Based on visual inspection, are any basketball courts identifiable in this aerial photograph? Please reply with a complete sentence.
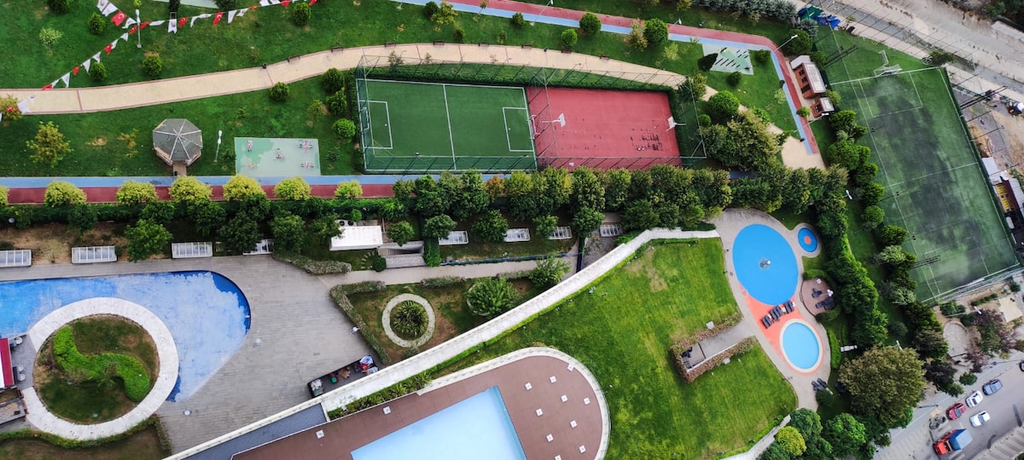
Yes, looking at the shot, I can spot a basketball court.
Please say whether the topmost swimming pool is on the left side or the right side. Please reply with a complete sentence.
It is on the right.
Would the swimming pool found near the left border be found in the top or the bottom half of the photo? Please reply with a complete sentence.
Seen from above, the swimming pool found near the left border lies in the bottom half of the view.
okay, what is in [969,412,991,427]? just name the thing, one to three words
car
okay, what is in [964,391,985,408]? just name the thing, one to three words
car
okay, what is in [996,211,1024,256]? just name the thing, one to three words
shed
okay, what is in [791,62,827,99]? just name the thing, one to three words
shed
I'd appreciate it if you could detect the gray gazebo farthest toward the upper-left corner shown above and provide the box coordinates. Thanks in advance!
[152,120,202,164]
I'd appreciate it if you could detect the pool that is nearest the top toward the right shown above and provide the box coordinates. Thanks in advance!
[797,224,820,254]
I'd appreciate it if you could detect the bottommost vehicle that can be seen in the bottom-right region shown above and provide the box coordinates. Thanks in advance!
[937,431,977,455]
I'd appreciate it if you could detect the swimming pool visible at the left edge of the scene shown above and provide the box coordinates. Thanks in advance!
[0,271,251,403]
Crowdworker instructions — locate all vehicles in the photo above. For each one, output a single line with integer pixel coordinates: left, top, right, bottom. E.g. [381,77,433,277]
[969,412,991,427]
[945,404,968,420]
[982,380,1002,396]
[964,391,985,408]
[937,431,977,455]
